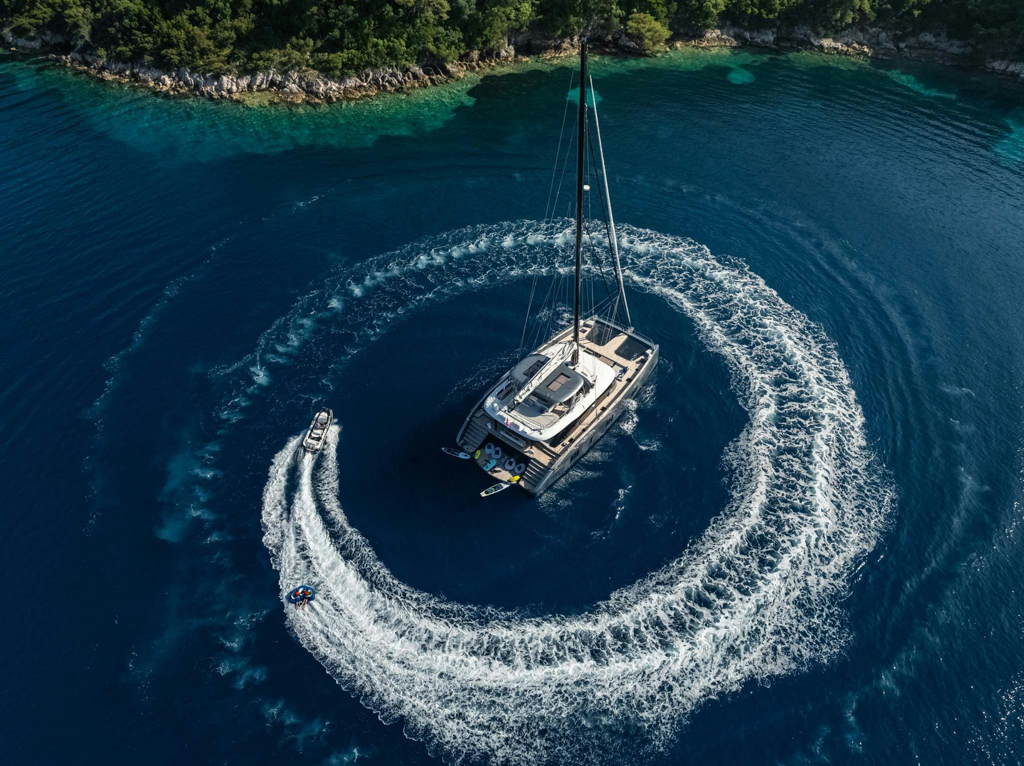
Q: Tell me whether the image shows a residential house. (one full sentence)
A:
No, the picture doesn't show any residential house.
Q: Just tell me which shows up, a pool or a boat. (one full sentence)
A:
It is a boat that can be seen here.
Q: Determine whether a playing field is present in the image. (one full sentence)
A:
No, I can't see a single playing field in this photo.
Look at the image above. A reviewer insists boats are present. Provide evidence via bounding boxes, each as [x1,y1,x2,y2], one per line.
[449,18,660,501]
[299,403,332,458]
